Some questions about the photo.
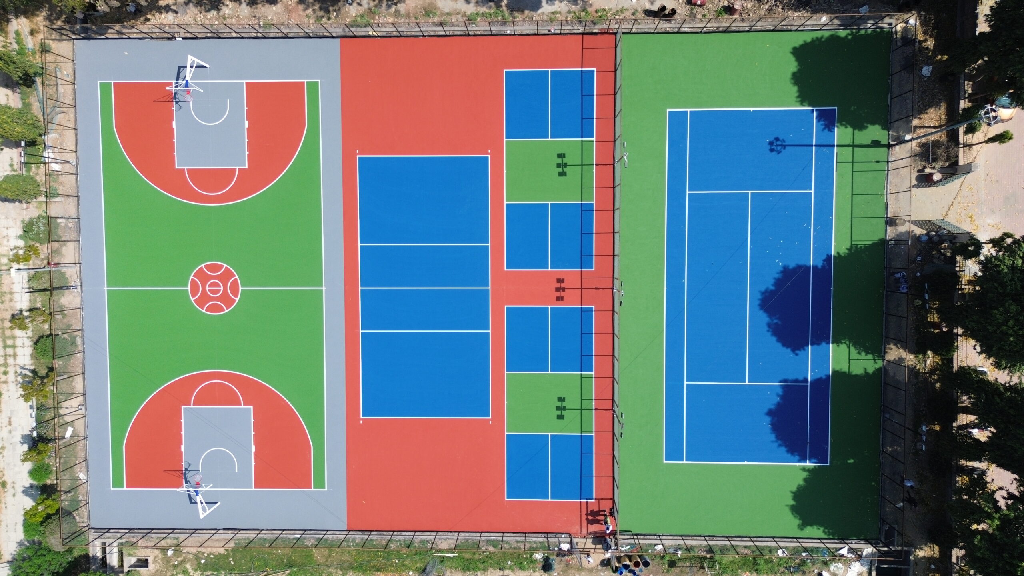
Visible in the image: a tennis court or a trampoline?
tennis court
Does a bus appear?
No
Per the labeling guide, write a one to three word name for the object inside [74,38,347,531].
basketball court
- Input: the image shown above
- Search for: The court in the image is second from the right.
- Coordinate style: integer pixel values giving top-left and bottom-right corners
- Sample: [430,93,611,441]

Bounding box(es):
[340,35,614,533]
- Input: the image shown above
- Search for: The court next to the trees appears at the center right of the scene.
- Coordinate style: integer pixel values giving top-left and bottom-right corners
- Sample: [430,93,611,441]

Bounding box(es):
[612,32,892,536]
